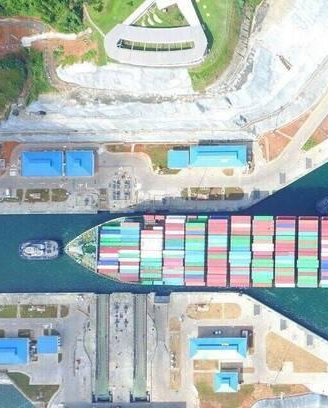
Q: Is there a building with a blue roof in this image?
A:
Yes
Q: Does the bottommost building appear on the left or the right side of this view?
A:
right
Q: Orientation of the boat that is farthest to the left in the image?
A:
from left to right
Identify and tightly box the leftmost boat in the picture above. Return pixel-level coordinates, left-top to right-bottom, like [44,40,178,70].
[18,240,60,259]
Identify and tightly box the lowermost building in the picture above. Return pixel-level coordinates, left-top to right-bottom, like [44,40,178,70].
[214,371,240,392]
